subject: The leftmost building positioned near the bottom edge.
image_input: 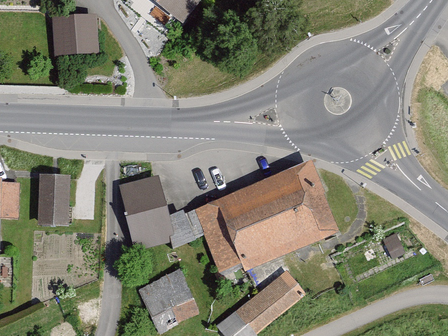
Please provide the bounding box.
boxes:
[139,270,198,334]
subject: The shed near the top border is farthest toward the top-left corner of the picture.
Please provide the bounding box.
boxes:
[50,14,99,55]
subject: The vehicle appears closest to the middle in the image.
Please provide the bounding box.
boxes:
[210,166,224,190]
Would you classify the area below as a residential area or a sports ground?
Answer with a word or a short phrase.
residential area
